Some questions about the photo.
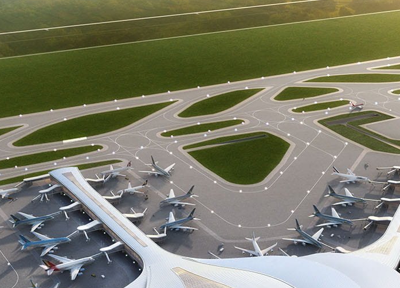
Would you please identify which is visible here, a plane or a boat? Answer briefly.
plane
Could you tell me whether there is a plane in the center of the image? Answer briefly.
Yes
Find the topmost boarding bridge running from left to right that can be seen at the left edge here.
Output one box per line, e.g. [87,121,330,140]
[13,175,50,187]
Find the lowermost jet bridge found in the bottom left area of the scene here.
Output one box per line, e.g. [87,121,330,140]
[92,243,124,264]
